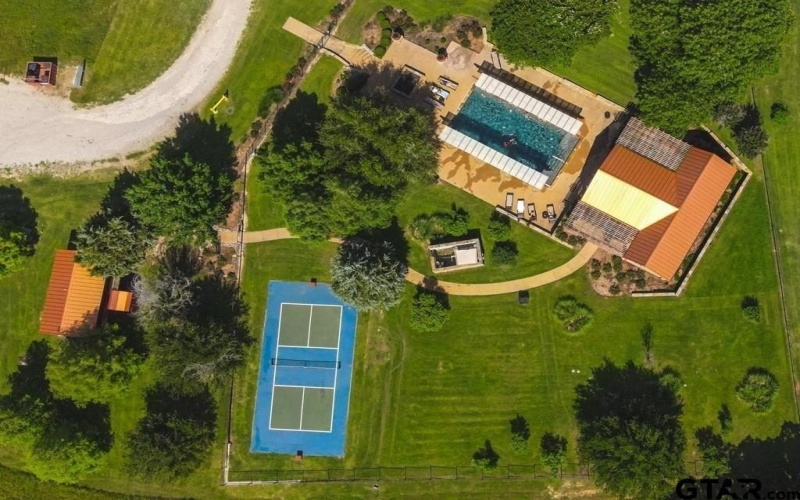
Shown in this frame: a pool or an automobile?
pool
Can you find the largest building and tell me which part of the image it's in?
right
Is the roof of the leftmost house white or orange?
orange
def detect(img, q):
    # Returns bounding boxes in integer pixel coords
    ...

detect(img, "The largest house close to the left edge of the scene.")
[38,248,112,335]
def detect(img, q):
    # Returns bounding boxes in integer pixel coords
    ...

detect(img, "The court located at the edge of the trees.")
[251,280,355,457]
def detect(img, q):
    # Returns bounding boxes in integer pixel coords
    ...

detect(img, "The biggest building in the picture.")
[562,116,738,280]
